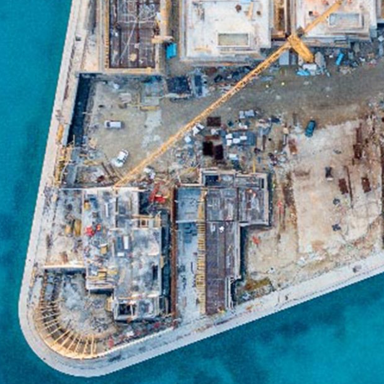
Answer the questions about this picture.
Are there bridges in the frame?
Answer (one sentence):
No, this view has no bridge in it.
